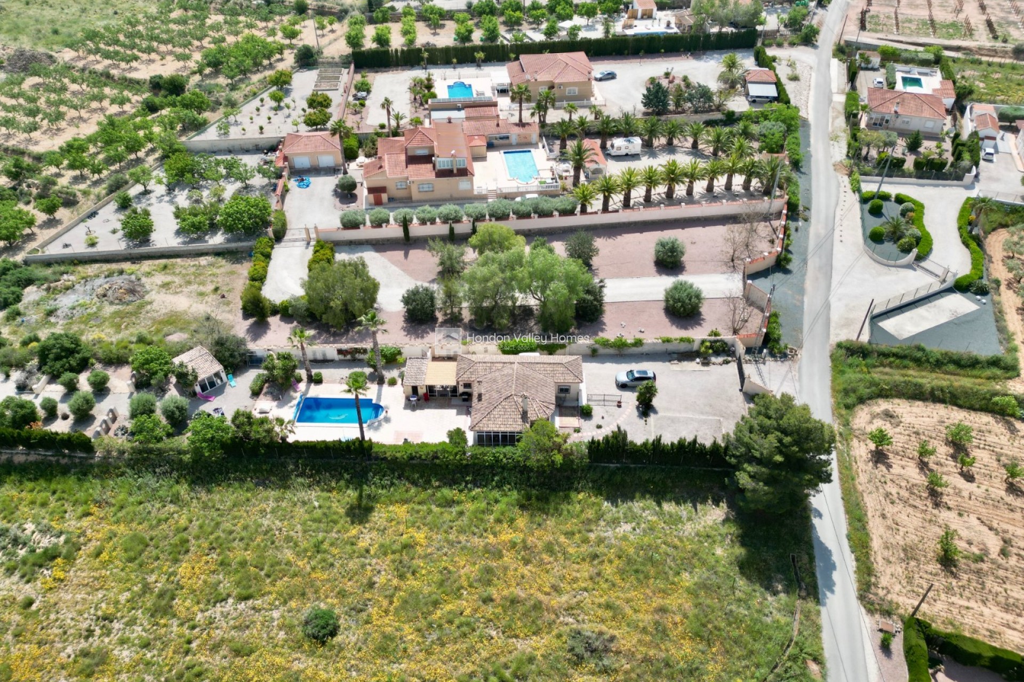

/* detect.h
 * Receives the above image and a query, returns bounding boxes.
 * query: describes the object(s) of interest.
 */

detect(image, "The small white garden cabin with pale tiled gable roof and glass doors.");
[173,345,227,394]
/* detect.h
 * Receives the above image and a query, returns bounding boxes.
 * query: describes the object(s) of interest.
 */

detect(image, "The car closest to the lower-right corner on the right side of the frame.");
[614,367,657,387]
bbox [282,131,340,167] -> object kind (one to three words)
building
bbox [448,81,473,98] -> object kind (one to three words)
swimming pool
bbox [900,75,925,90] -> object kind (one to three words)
swimming pool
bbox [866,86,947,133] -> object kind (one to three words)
house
